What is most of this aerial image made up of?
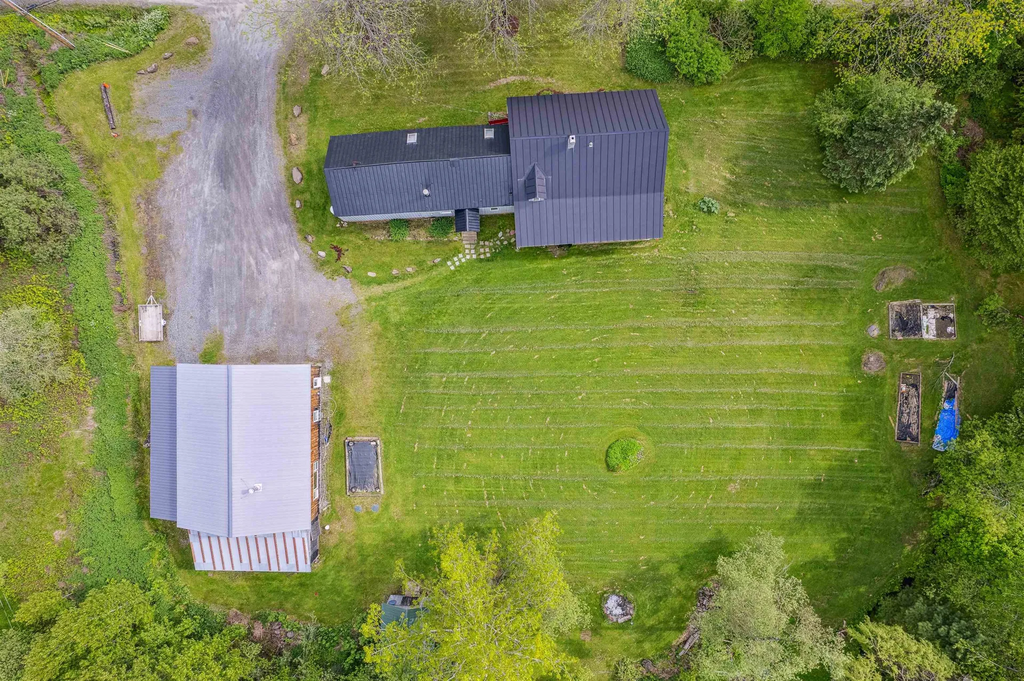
grass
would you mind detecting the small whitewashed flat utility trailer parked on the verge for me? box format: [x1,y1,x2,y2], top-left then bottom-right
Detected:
[134,290,168,341]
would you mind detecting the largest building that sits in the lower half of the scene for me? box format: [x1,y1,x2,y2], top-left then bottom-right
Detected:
[177,364,327,539]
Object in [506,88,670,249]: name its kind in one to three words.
house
